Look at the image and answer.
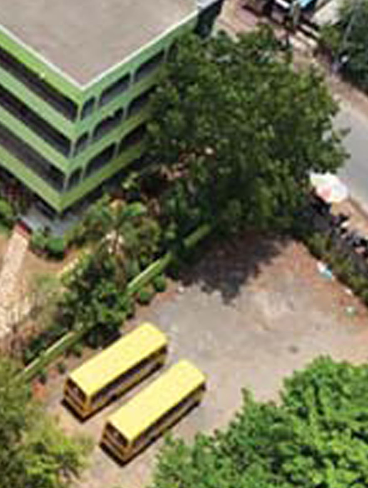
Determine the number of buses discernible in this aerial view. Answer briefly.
two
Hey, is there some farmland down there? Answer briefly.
No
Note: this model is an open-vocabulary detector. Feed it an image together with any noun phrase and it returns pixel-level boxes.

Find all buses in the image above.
[95,359,208,459]
[59,323,168,421]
